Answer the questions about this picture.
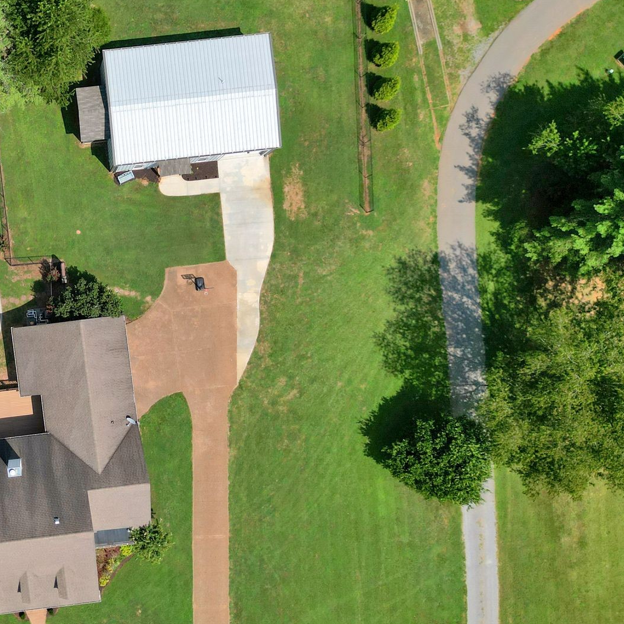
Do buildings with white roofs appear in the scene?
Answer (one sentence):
Yes, the picture does show a building with a white roof.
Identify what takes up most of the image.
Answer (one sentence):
The scene is dominated by grass.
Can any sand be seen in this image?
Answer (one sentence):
No, there's no sand in this view.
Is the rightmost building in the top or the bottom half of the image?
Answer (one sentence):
The rightmost building is in the top half of the image.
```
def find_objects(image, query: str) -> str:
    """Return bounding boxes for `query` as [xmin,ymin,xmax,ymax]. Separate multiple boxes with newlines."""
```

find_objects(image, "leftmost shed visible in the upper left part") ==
[77,86,106,149]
